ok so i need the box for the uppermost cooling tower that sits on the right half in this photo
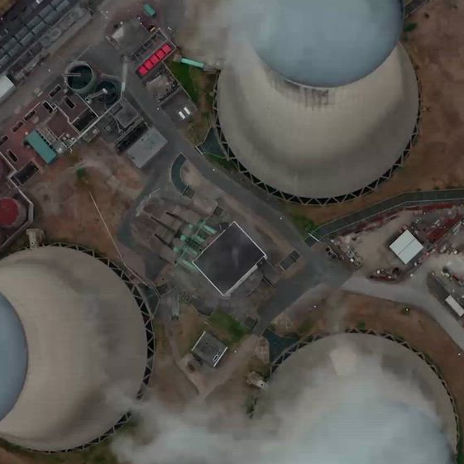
[216,0,426,202]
